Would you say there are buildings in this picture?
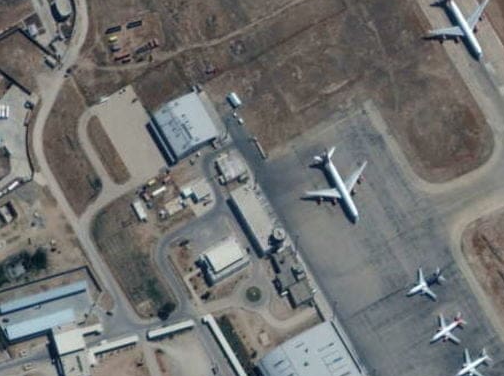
Yes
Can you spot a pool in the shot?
No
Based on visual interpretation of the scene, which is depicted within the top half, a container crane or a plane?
plane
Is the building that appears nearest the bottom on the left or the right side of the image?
left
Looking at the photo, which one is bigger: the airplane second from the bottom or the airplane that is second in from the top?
the airplane that is second in from the top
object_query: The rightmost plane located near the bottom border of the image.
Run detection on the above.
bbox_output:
[455,350,491,376]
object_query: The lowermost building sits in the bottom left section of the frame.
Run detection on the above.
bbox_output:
[62,350,94,376]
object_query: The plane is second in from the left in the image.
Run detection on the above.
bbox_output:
[406,267,443,299]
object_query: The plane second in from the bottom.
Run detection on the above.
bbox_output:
[431,313,467,343]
